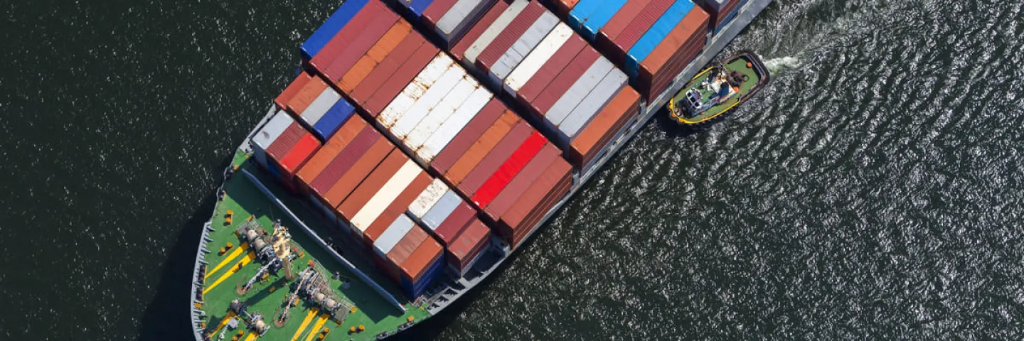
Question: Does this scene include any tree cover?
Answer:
No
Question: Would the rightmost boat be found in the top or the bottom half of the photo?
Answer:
top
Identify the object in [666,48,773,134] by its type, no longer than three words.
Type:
boat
